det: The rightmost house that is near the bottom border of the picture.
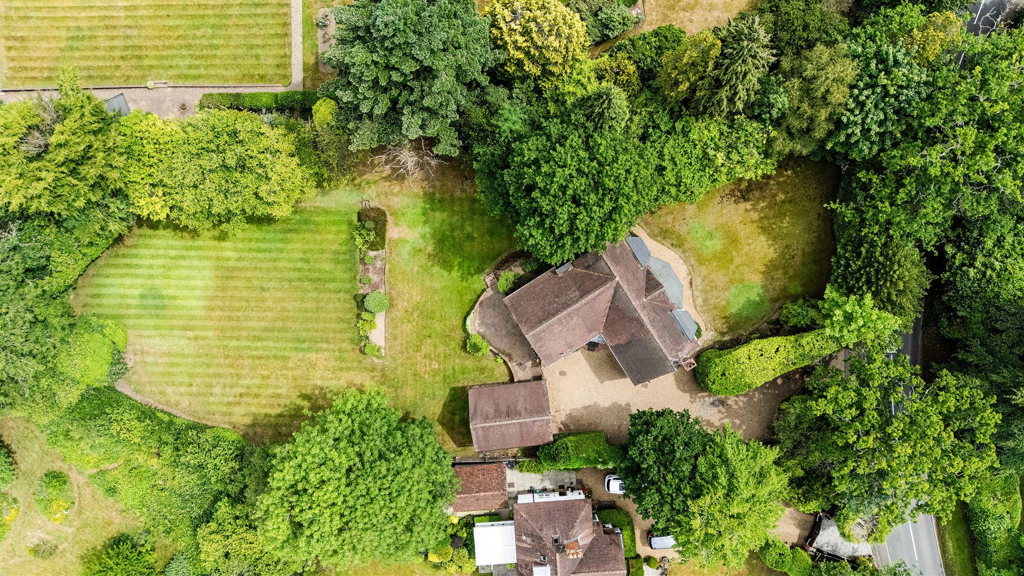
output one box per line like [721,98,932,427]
[513,484,631,576]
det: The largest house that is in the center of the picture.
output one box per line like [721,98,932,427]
[505,235,700,387]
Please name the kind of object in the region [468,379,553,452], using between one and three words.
building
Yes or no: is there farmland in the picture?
No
